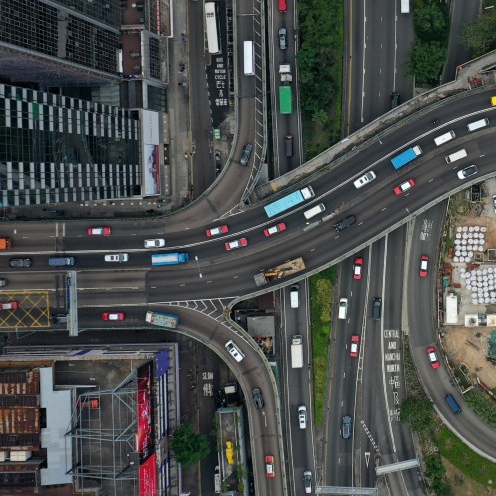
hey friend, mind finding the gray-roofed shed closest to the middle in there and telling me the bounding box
[248,315,276,354]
